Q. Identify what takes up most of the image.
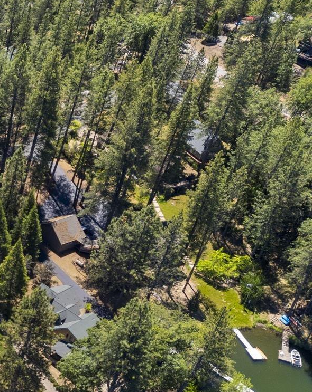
trees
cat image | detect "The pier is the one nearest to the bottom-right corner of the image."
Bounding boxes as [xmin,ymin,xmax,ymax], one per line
[275,332,291,363]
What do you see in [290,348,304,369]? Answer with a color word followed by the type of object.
white boat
